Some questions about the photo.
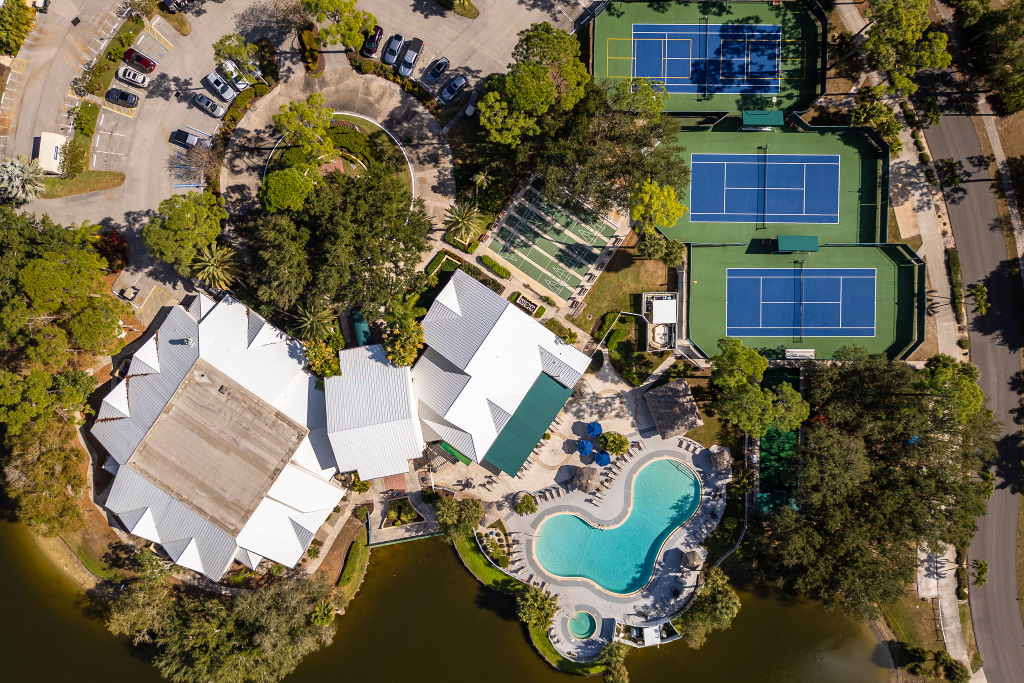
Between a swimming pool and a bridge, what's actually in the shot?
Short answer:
swimming pool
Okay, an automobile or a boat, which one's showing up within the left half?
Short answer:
automobile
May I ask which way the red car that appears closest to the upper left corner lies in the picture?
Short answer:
on a diagonal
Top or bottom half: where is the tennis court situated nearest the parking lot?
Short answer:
top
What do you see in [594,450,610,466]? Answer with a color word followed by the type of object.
blue umbrella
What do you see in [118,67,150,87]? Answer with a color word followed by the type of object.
white car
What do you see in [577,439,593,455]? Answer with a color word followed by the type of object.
blue umbrella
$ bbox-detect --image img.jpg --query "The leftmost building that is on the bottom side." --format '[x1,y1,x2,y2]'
[90,293,346,581]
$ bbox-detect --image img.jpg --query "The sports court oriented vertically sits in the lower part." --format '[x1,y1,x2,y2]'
[756,369,800,513]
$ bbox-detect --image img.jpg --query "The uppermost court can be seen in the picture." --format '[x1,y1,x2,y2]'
[597,2,820,132]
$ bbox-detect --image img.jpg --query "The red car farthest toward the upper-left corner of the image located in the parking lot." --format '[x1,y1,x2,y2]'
[126,48,156,74]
